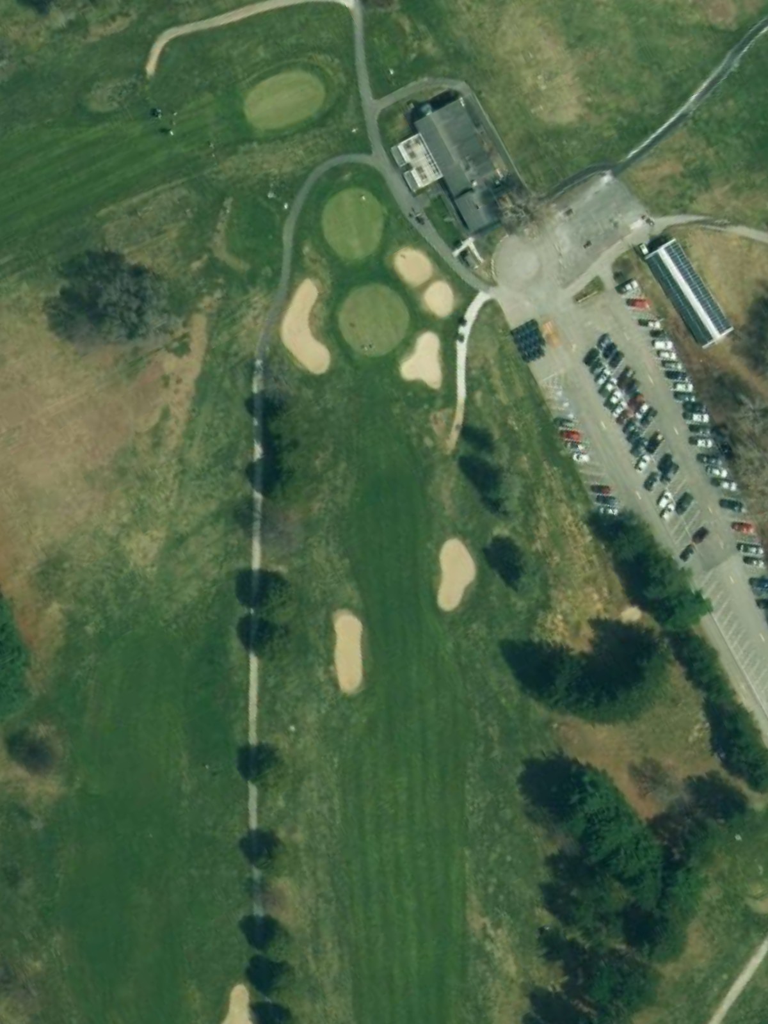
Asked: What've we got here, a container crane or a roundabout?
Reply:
roundabout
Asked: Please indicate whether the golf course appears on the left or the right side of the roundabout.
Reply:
left of it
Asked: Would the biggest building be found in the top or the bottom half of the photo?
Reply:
top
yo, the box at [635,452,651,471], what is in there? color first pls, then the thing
white car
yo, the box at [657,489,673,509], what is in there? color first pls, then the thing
white car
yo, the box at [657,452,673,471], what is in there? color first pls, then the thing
black car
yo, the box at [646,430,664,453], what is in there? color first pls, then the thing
black vehicle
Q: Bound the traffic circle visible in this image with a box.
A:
[494,234,542,282]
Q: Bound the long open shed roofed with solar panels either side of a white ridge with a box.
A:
[646,238,735,348]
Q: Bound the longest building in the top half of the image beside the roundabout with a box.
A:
[415,97,505,232]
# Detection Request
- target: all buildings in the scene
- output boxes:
[646,238,735,348]
[415,97,505,232]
